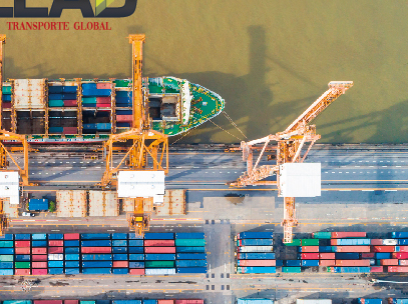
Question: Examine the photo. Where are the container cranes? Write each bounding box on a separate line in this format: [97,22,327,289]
[0,34,42,234]
[228,76,356,245]
[92,34,170,234]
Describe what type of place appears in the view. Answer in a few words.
port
